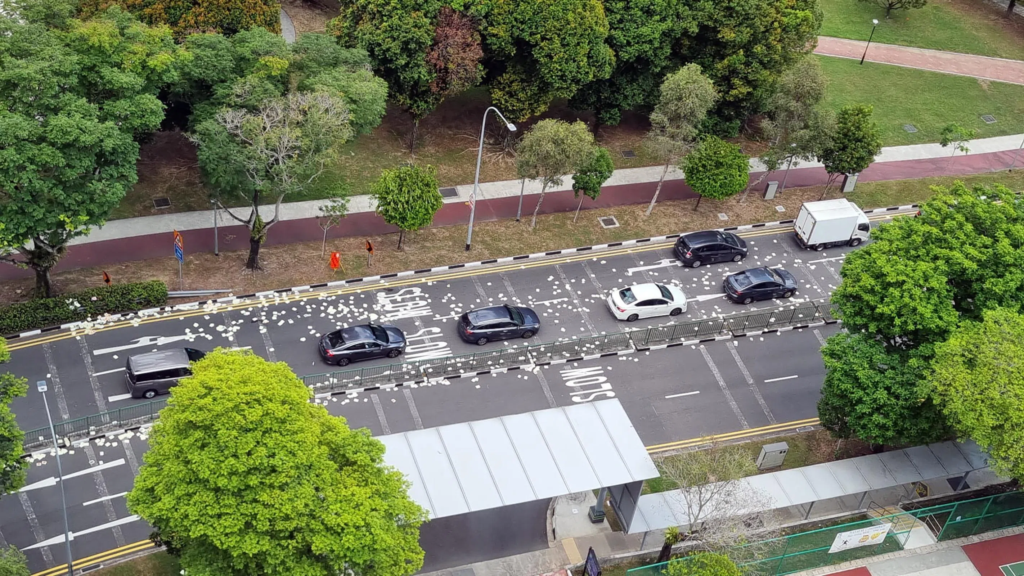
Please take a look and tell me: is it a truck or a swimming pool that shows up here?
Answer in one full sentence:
The image shows a truck.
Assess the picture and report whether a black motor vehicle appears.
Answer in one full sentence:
Yes, a black motor vehicle appears in the view.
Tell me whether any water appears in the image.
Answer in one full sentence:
No, there's no water in this view.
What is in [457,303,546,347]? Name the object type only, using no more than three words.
car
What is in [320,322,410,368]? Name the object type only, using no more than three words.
car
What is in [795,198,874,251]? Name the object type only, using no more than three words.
truck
